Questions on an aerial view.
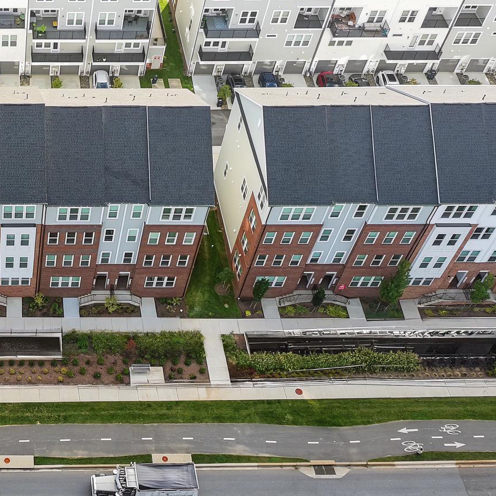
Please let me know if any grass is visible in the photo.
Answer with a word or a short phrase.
Yes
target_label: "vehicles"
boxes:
[88,463,199,496]
[350,73,372,84]
[373,69,398,84]
[257,69,280,84]
[225,73,243,98]
[91,69,110,86]
[316,72,338,84]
